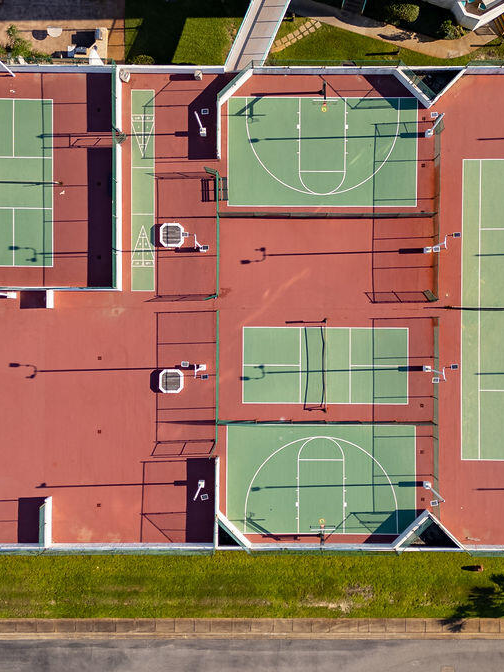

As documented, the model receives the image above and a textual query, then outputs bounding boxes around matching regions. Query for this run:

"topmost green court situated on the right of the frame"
[227,96,418,207]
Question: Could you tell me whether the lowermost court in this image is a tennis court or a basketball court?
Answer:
basketball court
